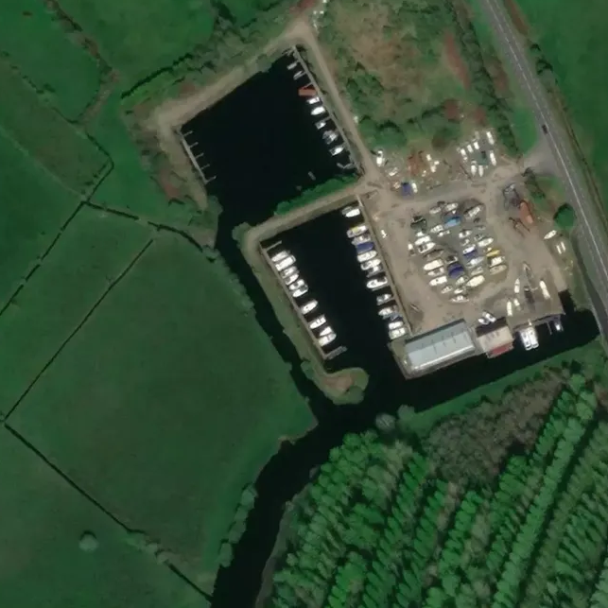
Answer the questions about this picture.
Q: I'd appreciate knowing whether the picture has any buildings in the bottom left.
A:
No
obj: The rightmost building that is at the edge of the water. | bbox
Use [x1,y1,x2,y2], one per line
[478,324,518,360]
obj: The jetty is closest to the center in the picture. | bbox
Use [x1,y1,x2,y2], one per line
[259,240,347,359]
